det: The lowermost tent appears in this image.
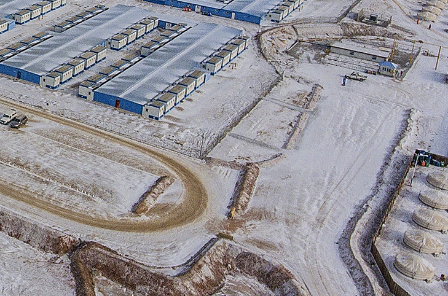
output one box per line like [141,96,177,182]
[390,251,441,284]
